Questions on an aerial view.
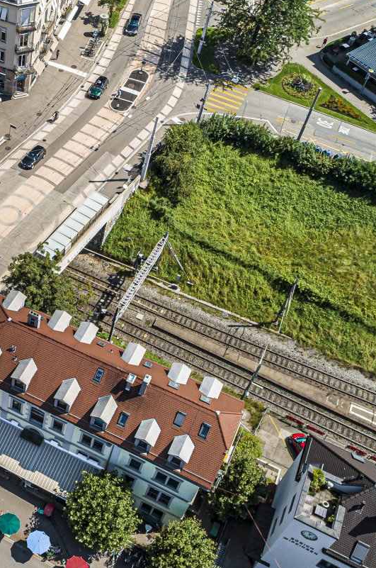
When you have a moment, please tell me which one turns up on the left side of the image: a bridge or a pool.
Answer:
bridge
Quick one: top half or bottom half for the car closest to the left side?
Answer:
top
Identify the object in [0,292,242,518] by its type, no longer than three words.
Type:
house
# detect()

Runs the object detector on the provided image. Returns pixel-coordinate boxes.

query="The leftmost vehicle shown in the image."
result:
[19,144,49,169]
